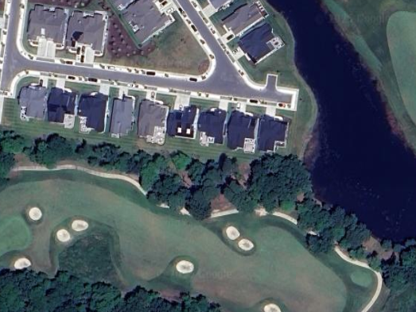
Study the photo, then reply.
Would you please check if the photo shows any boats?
No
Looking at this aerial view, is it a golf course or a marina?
golf course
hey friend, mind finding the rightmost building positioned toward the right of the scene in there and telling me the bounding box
[257,118,288,149]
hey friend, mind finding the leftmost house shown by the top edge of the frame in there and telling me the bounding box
[28,8,65,48]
